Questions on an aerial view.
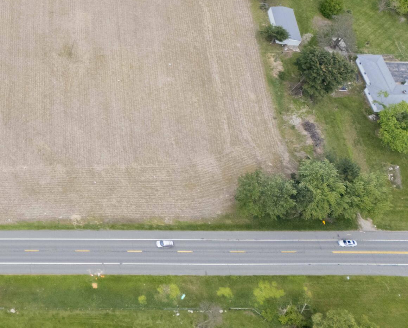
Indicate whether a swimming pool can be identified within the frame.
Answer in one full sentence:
No, I find no swimming pool anywhere in the image.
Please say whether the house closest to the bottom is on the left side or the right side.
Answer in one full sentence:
It is on the right.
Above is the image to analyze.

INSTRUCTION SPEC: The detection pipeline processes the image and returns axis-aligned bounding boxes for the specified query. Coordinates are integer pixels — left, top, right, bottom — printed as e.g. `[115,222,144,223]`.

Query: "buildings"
[270,4,301,45]
[356,56,408,113]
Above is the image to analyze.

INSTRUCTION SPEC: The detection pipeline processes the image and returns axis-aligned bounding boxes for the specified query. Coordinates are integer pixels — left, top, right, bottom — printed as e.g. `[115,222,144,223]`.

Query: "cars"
[156,240,175,250]
[339,240,359,249]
